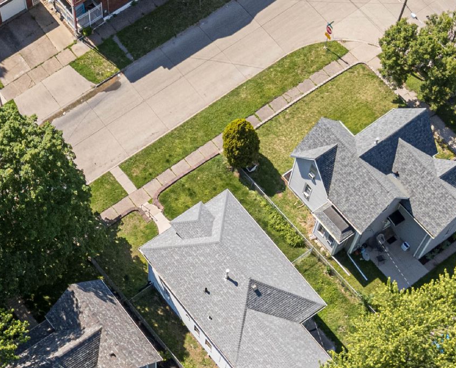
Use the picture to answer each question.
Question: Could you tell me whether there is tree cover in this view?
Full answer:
Yes, the picture does contain tree cover.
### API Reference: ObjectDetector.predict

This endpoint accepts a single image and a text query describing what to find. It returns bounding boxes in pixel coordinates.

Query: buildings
[0,279,163,368]
[47,0,136,38]
[0,0,34,26]
[281,107,456,280]
[137,189,350,368]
